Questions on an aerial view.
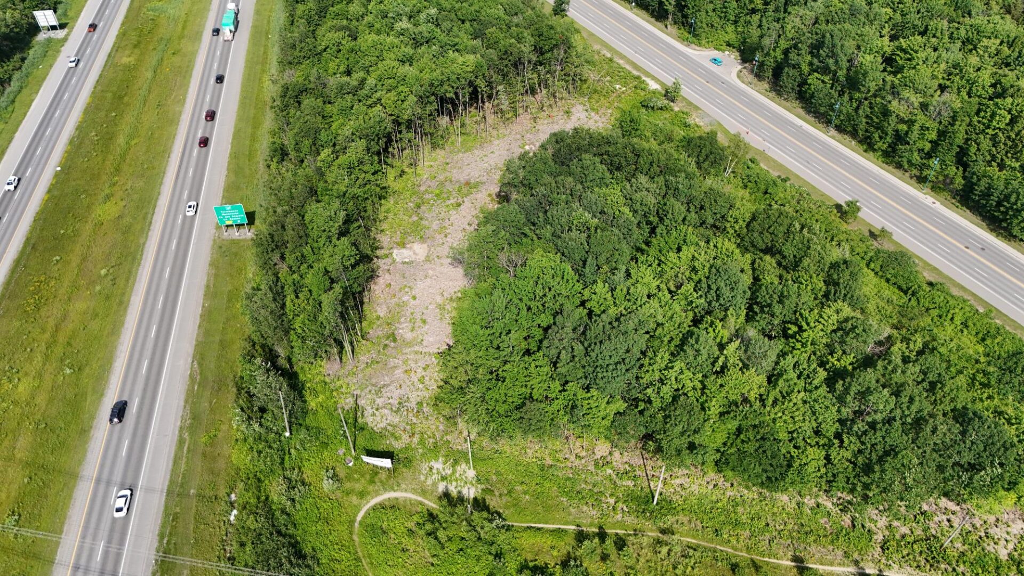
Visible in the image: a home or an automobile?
automobile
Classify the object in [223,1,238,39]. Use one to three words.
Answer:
vehicle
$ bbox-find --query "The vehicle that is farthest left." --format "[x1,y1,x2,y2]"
[4,176,18,190]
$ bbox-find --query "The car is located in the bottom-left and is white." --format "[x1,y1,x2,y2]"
[113,488,132,518]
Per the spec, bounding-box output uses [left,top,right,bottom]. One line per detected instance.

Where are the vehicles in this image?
[205,109,215,120]
[88,23,96,31]
[108,399,127,424]
[4,176,18,190]
[709,58,724,66]
[198,135,208,147]
[113,488,132,518]
[223,1,238,39]
[186,202,197,215]
[215,73,224,83]
[68,57,79,66]
[212,27,220,35]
